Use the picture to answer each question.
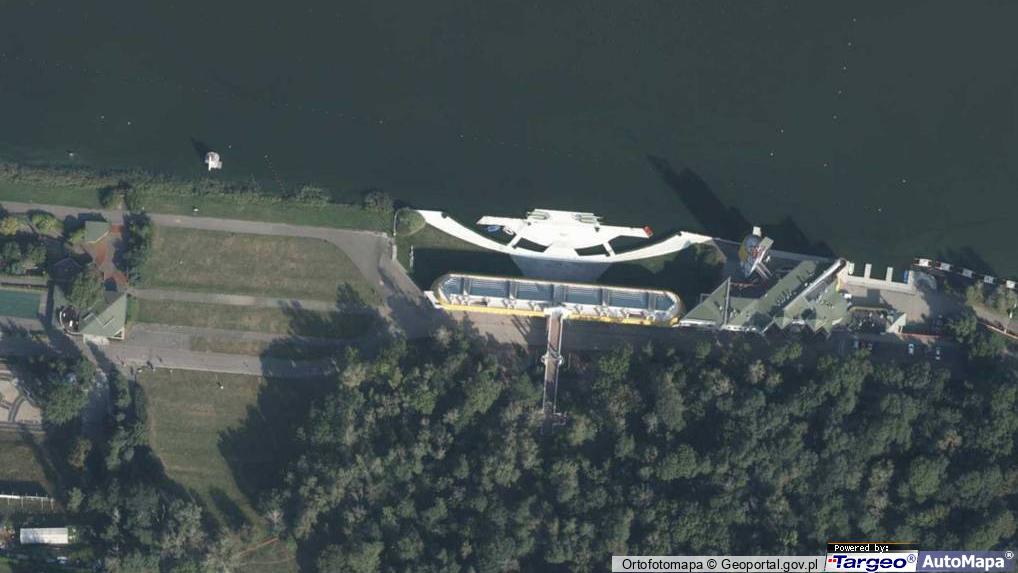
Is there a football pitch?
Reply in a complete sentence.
No, I can see no football pitch in this picture.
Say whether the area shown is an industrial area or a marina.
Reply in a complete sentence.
What you see here is a marina.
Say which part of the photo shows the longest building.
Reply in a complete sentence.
The longest building is in the right part of the image.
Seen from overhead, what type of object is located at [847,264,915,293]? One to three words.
pier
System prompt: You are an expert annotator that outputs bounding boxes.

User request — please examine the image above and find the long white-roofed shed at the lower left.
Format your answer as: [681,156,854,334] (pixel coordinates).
[20,528,69,545]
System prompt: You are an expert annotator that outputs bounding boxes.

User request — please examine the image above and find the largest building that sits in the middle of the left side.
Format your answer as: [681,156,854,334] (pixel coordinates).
[76,290,126,344]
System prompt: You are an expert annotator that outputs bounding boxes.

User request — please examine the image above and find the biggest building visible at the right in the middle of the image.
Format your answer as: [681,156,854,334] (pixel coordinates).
[680,258,849,334]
